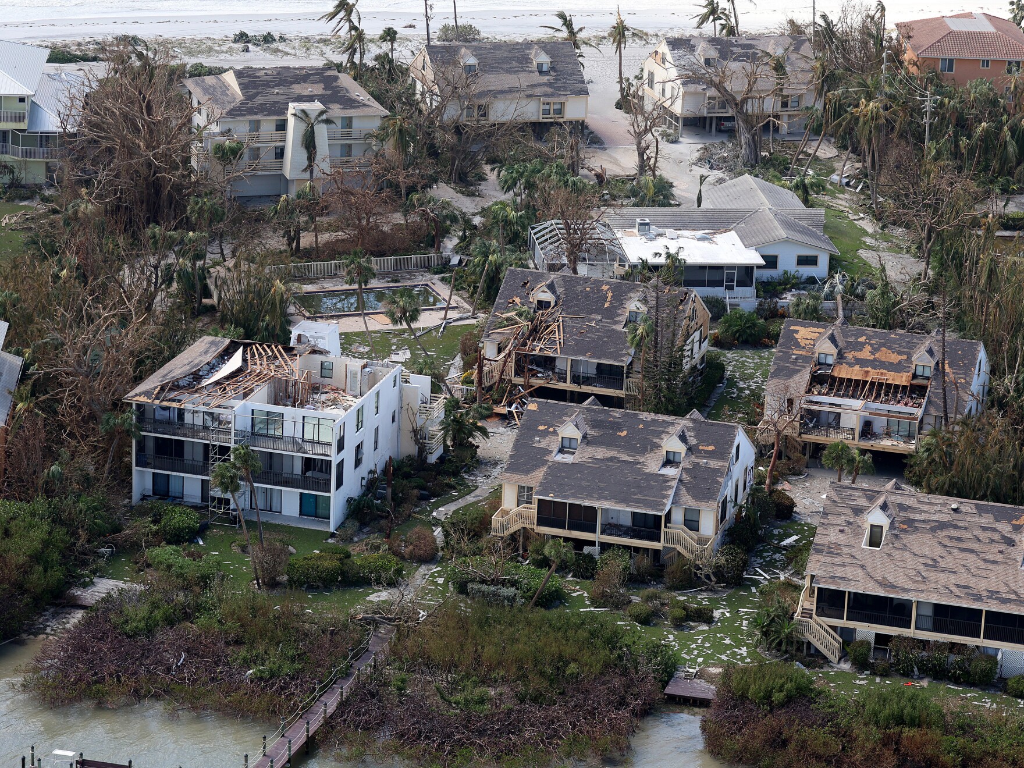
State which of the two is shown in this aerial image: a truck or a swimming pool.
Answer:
swimming pool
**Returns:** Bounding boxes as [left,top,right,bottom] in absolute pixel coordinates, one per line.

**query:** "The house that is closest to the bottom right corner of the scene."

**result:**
[780,482,1024,678]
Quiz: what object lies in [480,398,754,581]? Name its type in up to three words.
house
